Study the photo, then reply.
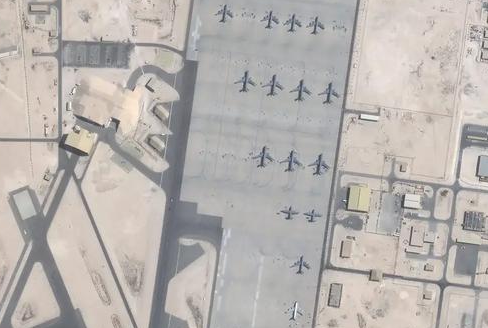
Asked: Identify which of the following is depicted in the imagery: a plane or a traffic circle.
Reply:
plane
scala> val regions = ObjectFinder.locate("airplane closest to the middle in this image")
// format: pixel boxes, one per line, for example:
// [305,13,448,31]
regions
[253,146,274,167]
